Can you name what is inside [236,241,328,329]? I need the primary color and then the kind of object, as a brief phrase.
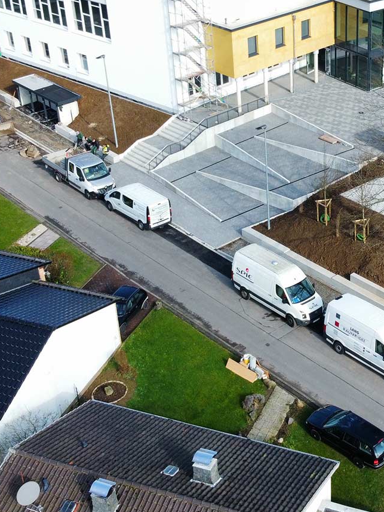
white van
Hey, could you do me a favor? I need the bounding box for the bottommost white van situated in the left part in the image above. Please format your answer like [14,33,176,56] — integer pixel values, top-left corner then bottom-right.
[104,183,171,230]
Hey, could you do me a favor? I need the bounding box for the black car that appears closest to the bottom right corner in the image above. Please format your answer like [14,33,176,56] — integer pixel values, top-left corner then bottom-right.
[305,402,384,476]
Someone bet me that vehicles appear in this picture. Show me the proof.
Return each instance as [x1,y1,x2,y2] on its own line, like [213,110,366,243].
[43,147,119,197]
[104,183,171,230]
[112,287,158,337]
[305,402,384,476]
[322,289,384,375]
[236,241,328,329]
